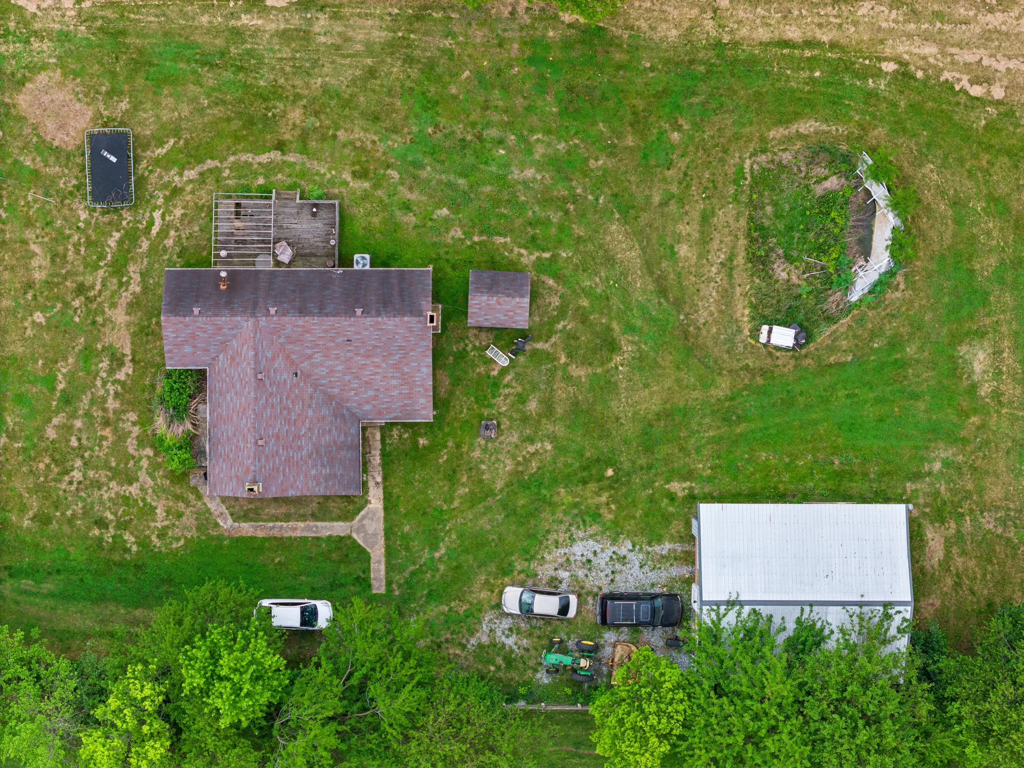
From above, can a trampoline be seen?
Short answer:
Yes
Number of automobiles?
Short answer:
3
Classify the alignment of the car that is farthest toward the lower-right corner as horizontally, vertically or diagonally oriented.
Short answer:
horizontally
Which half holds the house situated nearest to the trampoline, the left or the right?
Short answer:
left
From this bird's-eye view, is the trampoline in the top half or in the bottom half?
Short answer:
top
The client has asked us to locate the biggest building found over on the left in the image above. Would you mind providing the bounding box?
[161,266,441,498]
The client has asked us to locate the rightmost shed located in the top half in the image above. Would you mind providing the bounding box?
[467,269,531,329]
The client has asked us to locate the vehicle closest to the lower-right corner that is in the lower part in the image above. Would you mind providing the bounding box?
[597,591,680,630]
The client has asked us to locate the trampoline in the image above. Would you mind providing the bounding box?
[85,129,134,207]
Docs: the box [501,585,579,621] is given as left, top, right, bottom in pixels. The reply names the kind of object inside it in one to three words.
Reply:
car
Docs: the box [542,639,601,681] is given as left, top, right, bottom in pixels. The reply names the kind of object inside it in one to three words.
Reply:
work vehicle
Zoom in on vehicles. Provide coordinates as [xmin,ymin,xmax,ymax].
[254,597,333,632]
[501,585,579,621]
[597,591,680,630]
[542,639,601,681]
[758,325,795,349]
